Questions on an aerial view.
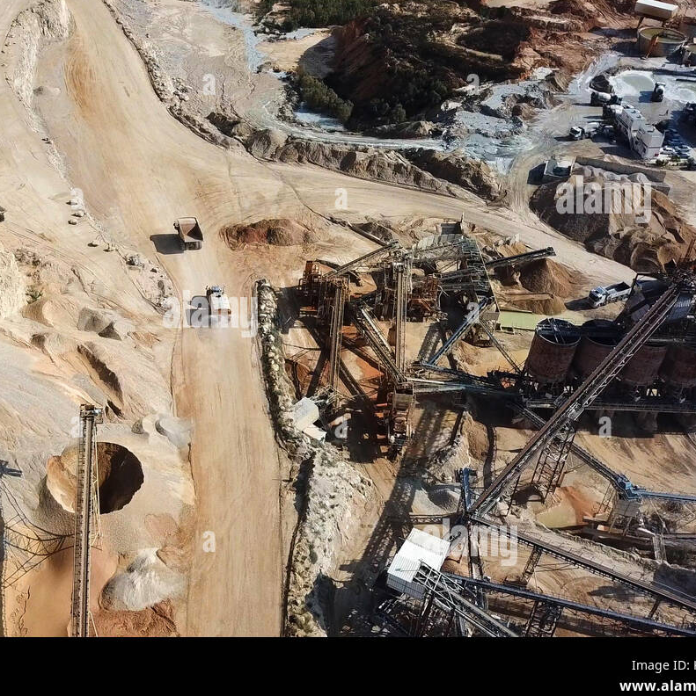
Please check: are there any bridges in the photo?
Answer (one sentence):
Yes, the frame does contain a bridge.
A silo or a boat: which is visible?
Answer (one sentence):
It is a silo that can be seen here.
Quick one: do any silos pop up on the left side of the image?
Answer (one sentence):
No, no silo is visible on the left side of the image.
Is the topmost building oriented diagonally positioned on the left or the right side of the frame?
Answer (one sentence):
The topmost building oriented diagonally sits on the right side.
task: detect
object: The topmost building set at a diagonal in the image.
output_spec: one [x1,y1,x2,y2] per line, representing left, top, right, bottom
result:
[600,114,676,172]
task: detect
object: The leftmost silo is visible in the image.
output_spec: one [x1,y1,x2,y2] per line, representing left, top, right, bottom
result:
[521,320,582,411]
